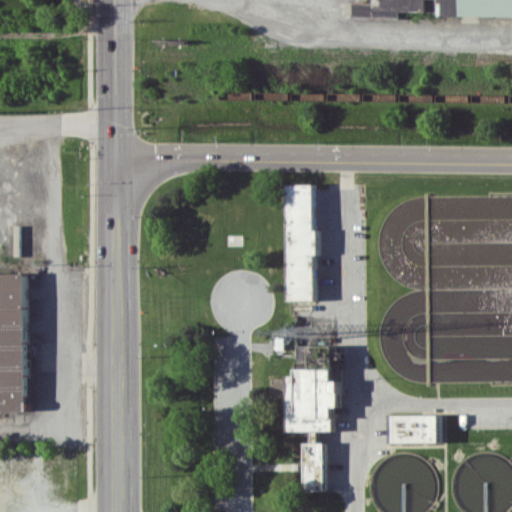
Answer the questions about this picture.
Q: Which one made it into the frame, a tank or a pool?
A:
tank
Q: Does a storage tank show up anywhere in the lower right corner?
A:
Yes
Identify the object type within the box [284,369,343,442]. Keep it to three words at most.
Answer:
building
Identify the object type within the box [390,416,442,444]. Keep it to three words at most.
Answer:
building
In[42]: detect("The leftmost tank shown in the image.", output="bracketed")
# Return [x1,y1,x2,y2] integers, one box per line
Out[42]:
[371,453,439,512]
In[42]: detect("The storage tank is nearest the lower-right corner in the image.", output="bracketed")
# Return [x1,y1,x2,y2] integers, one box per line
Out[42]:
[453,454,512,512]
